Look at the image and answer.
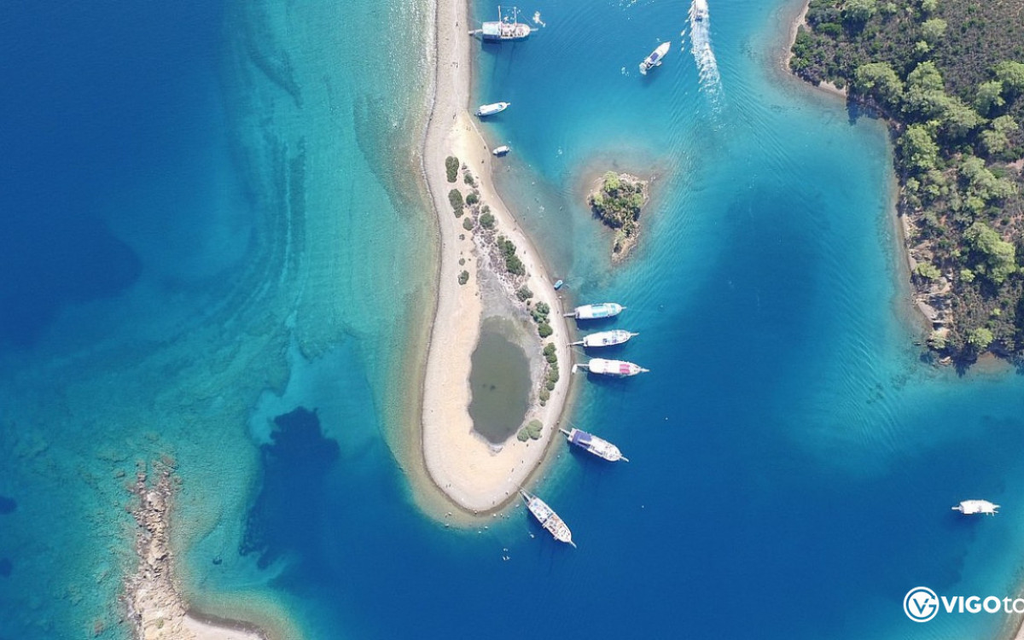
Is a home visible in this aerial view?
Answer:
No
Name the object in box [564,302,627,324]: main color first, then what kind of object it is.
white boat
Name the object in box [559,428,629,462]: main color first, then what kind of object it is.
white boat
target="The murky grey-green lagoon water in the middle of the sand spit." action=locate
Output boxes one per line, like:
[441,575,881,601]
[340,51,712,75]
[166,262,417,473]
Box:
[471,330,529,440]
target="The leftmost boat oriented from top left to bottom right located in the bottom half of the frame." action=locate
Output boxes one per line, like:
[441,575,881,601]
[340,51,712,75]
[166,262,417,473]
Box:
[518,487,577,548]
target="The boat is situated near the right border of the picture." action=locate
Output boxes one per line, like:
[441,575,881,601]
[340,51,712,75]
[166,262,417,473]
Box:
[952,501,1000,516]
